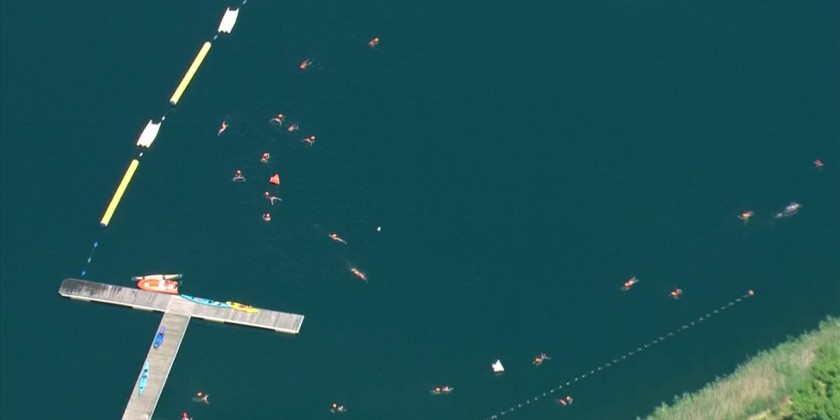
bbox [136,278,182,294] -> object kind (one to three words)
boat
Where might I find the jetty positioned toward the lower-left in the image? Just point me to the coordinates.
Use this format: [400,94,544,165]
[61,279,304,420]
